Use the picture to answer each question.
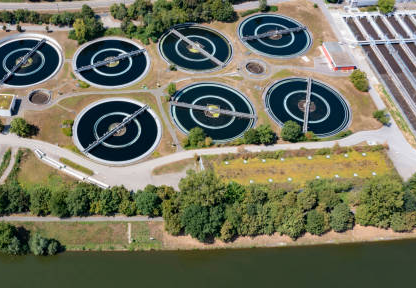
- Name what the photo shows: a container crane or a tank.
tank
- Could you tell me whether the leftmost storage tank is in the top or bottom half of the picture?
top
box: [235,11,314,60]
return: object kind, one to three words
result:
storage tank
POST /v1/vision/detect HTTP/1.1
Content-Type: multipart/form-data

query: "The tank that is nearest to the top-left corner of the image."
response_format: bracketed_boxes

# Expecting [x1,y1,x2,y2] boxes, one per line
[0,33,67,91]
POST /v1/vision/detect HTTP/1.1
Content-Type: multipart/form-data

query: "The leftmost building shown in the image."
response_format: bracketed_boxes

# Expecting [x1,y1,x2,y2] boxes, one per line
[0,94,16,117]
